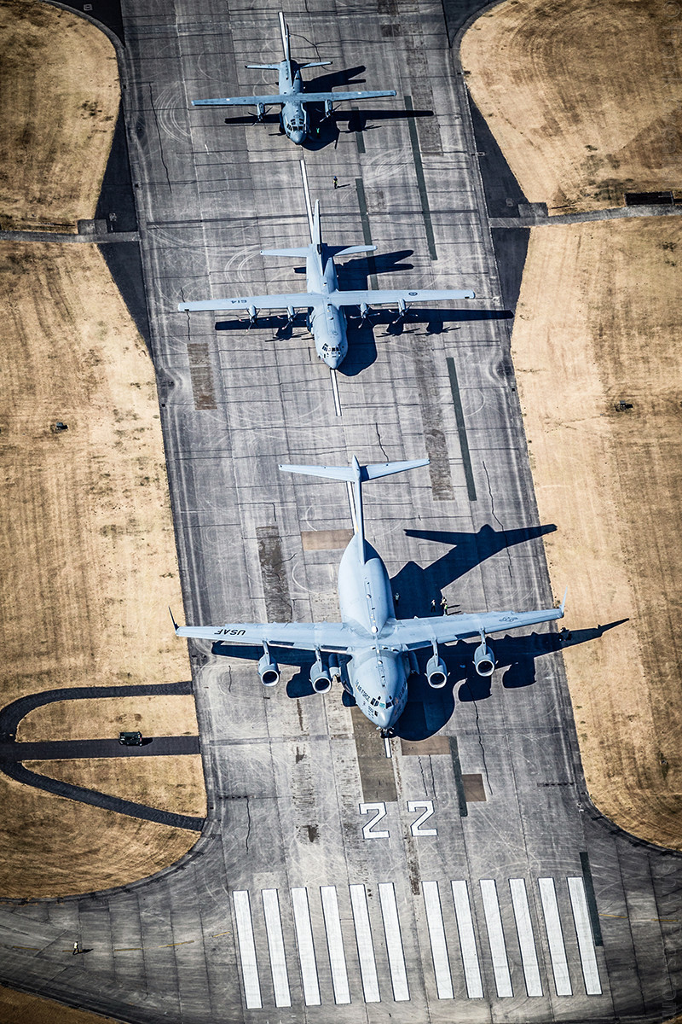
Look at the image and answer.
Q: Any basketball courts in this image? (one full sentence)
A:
No, there isn't any basketball court down there.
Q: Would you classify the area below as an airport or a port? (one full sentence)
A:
This looks like an airport.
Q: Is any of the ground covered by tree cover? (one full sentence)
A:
No, tree cover can't be seen anywhere here.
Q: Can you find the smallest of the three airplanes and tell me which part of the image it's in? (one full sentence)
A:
The smallest of the three airplanes sits in the top section of the image.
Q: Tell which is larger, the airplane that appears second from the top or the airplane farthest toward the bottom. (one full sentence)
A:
The airplane farthest toward the bottom is bigger than the airplane that appears second from the top.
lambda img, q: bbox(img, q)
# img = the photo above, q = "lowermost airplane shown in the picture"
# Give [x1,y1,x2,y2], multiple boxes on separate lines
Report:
[167,453,569,737]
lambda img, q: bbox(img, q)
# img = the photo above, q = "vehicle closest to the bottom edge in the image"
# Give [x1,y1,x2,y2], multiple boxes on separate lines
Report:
[116,728,143,745]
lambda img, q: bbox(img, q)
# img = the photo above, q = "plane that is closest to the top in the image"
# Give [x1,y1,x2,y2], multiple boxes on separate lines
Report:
[191,21,397,147]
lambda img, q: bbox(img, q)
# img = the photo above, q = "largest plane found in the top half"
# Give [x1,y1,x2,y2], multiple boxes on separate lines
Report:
[177,197,475,373]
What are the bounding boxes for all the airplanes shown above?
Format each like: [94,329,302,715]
[167,453,569,737]
[191,21,397,147]
[177,197,475,373]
